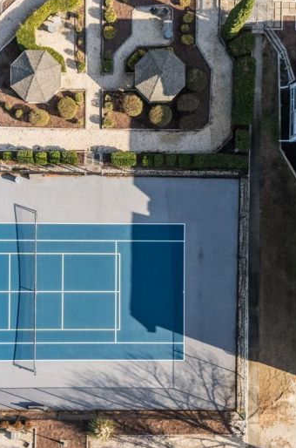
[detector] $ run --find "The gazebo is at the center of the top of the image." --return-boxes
[133,48,187,105]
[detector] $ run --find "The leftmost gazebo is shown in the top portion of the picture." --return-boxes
[9,49,63,105]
